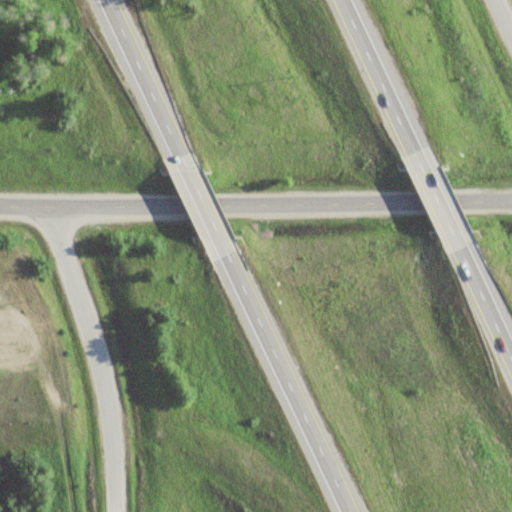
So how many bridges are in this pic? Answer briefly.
2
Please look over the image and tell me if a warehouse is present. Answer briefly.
No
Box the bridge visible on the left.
[157,149,250,262]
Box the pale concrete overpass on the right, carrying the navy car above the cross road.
[393,144,488,256]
